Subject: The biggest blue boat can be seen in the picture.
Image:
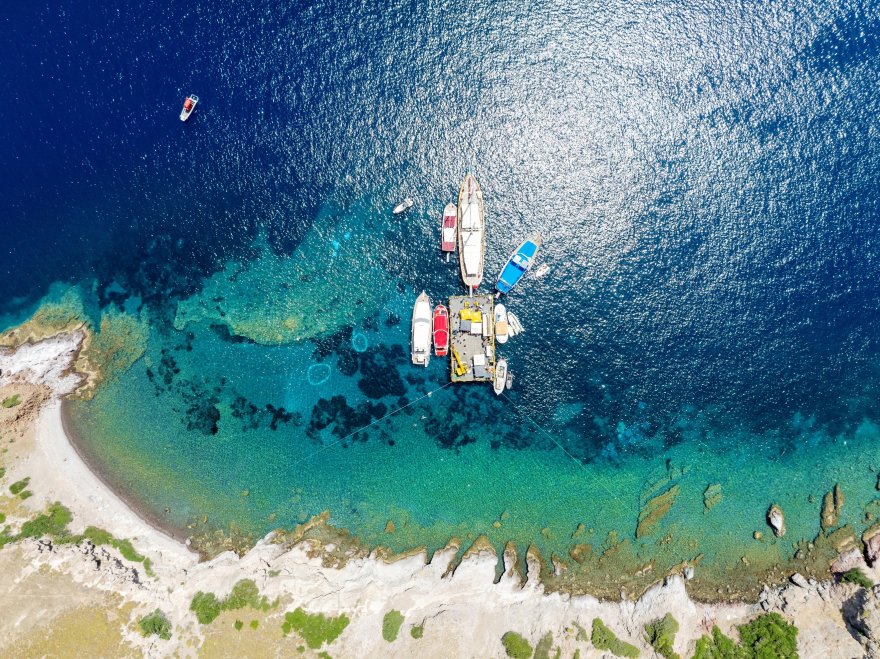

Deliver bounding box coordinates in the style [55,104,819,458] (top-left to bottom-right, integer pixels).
[498,230,544,292]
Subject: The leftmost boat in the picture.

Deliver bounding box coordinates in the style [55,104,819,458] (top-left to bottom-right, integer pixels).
[180,89,199,121]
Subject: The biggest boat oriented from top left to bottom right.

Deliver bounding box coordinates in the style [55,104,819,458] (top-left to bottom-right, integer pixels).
[508,312,524,334]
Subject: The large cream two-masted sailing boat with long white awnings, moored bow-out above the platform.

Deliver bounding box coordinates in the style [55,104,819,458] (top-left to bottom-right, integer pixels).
[459,155,484,289]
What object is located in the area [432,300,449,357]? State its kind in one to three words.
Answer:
boat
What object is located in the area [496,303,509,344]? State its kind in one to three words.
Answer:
boat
